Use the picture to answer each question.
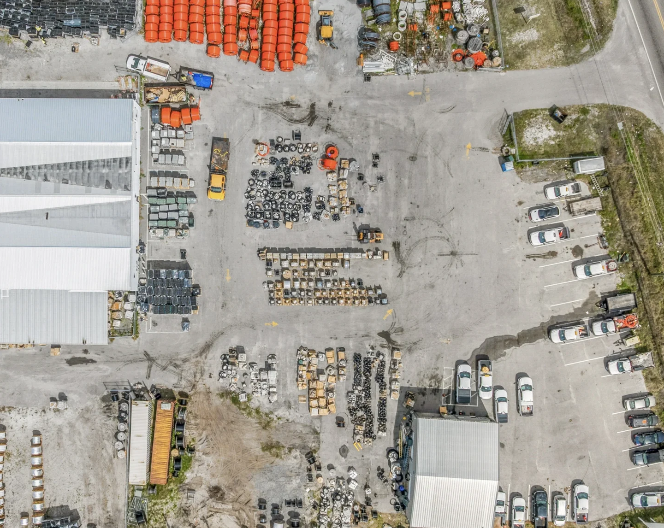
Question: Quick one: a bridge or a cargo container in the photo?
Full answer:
The one in the frame is a cargo container.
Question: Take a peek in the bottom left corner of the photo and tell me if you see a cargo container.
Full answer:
Yes, a cargo container can be seen in the bottom left corner of the photo.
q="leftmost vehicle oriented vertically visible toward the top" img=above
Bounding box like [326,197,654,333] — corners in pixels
[207,138,229,202]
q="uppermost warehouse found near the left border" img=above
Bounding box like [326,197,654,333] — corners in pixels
[0,97,139,292]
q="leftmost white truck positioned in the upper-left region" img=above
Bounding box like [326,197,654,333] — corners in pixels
[127,56,172,83]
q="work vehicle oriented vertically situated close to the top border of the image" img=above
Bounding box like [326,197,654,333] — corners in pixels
[317,8,337,56]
